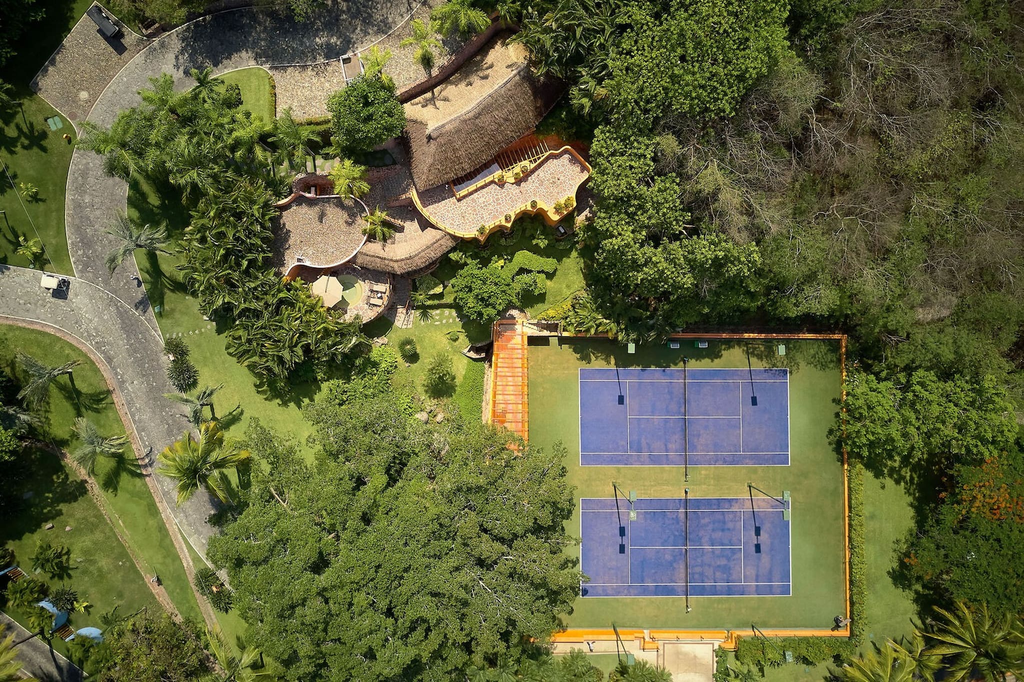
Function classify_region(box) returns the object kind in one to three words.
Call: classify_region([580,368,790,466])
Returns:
tennis court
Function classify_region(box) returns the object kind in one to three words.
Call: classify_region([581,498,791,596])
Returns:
tennis court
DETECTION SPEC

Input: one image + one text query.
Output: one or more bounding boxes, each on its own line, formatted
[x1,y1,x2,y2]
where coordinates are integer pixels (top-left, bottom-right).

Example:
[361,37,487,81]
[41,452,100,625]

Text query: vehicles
[40,274,71,289]
[82,3,128,46]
